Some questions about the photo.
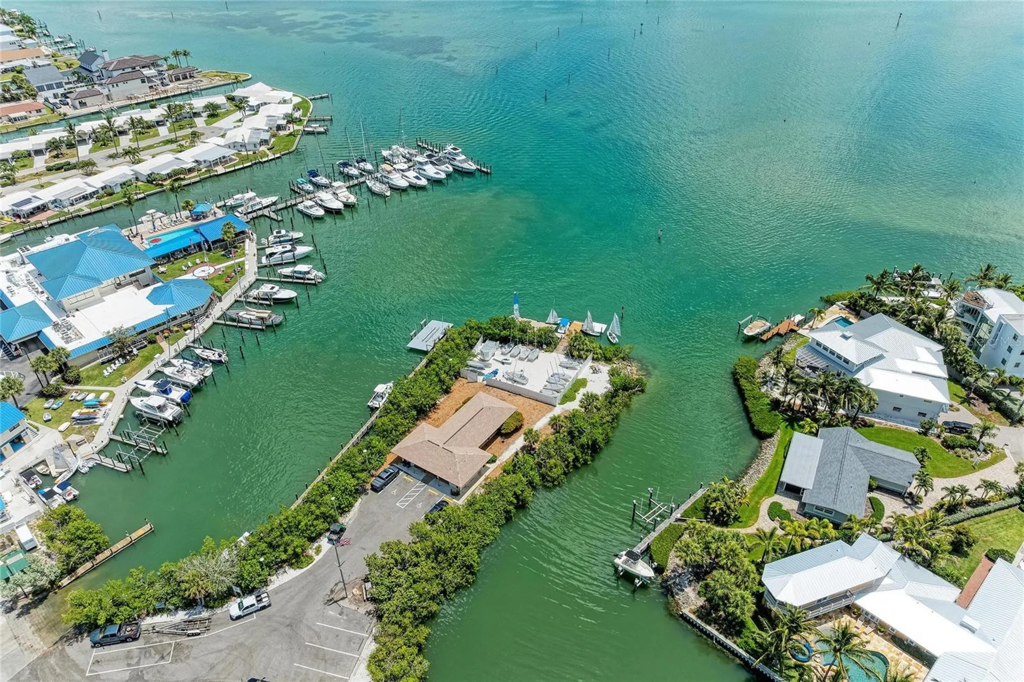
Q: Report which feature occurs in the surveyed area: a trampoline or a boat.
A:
boat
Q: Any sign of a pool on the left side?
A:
Yes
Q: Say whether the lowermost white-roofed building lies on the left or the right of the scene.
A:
right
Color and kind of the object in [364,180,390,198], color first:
white boat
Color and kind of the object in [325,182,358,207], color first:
white boat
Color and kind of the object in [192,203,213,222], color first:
blue gazebo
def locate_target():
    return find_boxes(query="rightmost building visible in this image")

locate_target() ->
[948,287,1024,380]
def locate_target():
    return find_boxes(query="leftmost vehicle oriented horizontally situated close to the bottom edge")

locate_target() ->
[86,620,143,649]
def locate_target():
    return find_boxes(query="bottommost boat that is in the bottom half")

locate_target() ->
[608,554,654,580]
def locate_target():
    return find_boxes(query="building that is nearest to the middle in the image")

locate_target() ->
[390,392,517,497]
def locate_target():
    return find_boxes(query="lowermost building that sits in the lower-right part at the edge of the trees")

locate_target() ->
[763,533,1024,682]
